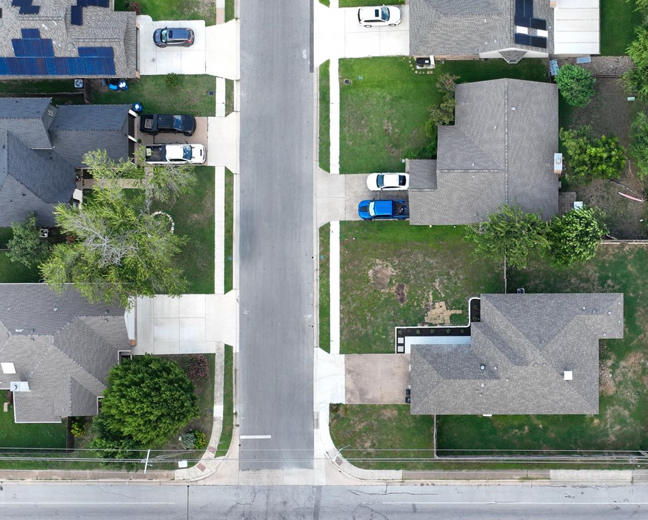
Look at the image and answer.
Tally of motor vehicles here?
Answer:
6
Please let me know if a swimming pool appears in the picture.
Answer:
No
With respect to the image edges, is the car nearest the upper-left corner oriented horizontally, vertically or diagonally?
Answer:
horizontally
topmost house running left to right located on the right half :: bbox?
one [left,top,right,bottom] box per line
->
[410,0,557,64]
